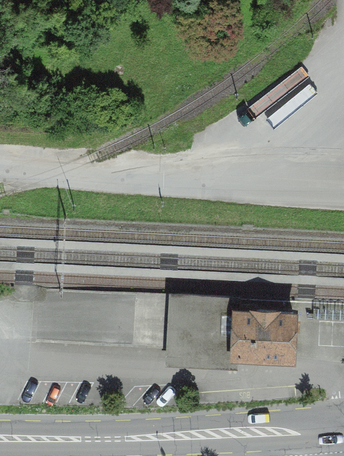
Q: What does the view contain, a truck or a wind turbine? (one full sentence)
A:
This aerial view contains a truck.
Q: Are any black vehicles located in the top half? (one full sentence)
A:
No, no black vehicle is visible in the top half.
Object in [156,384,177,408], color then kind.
white car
